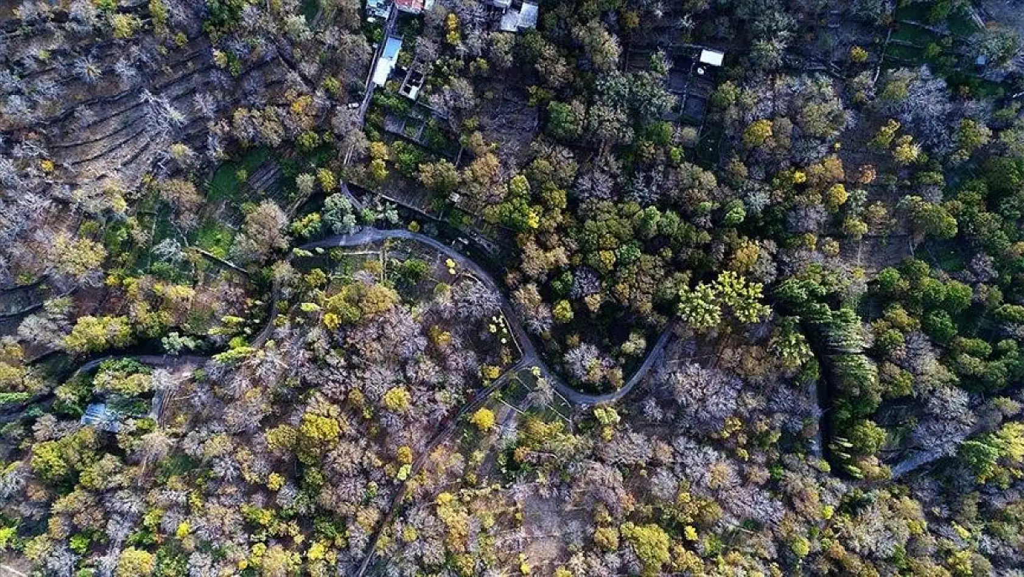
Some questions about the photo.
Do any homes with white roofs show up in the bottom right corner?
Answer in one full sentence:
No, there's no home with a white roof to be seen in the bottom right corner.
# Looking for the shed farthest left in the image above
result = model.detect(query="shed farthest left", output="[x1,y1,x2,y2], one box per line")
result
[81,402,122,432]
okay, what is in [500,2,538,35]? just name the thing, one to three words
house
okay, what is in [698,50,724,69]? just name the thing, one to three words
house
